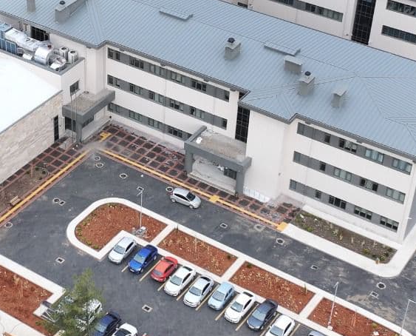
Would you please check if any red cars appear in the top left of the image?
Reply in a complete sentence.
No, the scene shows no red car in the top left of the image.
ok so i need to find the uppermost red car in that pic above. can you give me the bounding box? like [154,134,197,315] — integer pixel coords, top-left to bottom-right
[148,253,180,284]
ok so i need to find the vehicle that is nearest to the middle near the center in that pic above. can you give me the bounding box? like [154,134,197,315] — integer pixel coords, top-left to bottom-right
[169,186,202,210]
